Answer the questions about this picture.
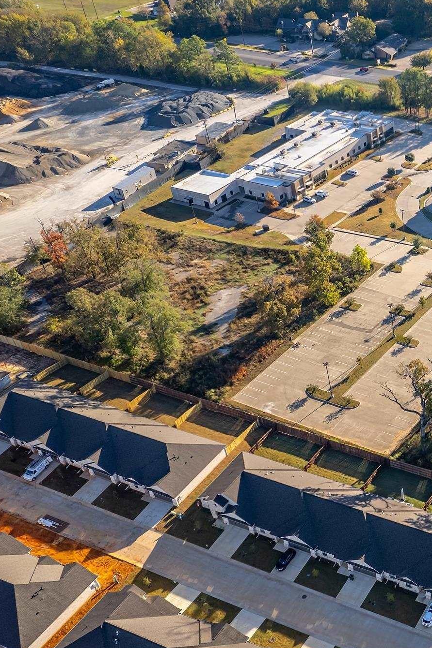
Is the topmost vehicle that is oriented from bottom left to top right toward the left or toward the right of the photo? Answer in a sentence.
It is on the left.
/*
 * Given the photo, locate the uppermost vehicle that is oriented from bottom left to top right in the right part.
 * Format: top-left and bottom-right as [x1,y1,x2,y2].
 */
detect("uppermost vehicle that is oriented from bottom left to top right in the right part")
[273,549,299,571]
